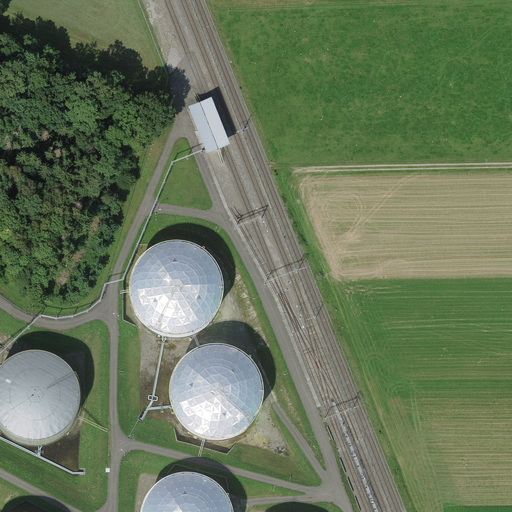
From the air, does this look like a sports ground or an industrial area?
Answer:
industrial area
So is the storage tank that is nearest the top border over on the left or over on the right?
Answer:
left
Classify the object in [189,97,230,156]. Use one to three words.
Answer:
shed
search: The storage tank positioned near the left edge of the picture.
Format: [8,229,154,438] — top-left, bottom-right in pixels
[0,349,84,444]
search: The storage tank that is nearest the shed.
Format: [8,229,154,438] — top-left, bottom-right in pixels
[130,240,226,337]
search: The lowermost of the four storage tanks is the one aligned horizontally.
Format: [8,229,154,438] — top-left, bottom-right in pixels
[141,472,236,512]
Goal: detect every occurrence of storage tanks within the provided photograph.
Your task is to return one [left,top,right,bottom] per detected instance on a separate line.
[0,349,84,444]
[130,240,226,337]
[141,472,236,512]
[169,343,266,440]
